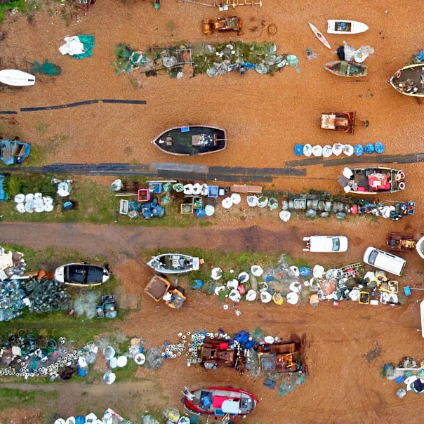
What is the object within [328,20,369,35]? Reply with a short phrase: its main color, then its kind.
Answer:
white boat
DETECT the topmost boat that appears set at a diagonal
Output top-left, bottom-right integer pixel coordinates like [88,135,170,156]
[308,22,331,49]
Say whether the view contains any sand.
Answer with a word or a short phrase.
Yes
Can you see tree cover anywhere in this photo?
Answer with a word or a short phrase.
No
